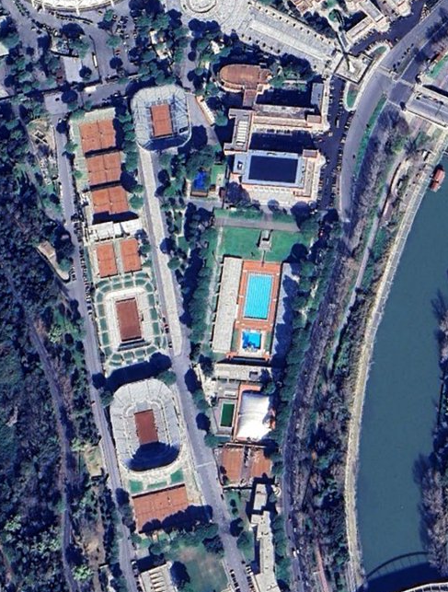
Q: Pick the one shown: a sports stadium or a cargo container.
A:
sports stadium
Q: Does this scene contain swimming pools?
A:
Yes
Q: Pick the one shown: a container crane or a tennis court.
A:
tennis court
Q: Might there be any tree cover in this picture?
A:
Yes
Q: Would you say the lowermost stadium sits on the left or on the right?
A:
left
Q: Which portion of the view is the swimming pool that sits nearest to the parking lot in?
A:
center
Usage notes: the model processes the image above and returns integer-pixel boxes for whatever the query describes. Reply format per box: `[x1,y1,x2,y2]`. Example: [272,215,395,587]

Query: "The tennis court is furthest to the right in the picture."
[252,448,272,479]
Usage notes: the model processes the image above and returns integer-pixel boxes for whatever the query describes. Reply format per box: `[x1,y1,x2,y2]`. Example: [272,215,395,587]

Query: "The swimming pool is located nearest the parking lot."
[229,261,282,361]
